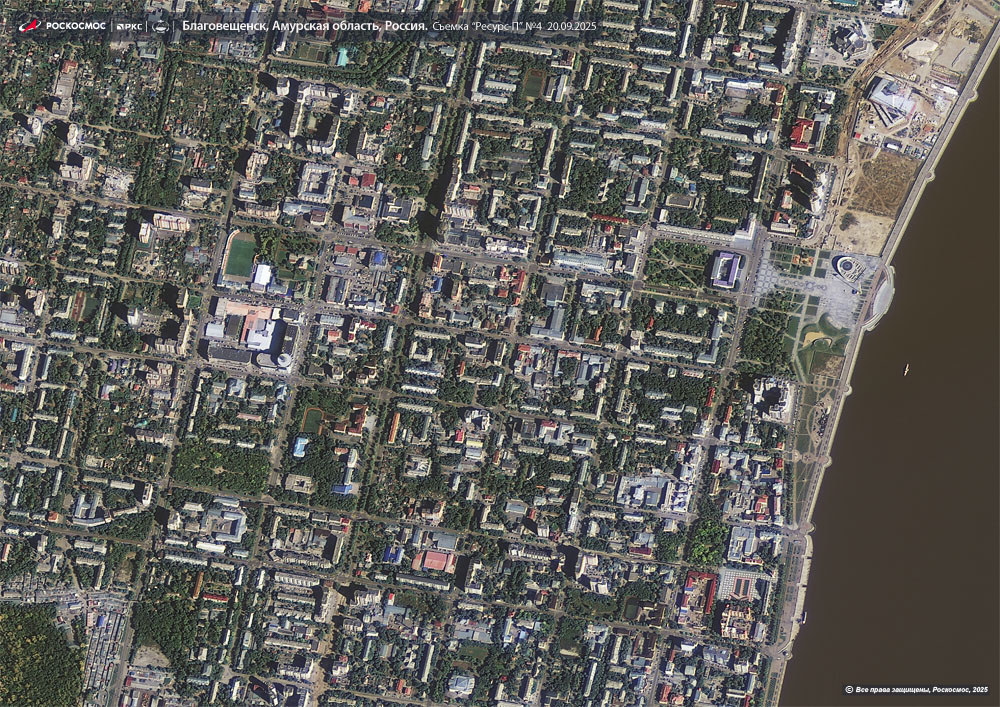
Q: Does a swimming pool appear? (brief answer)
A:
No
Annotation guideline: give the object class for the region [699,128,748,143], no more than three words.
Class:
building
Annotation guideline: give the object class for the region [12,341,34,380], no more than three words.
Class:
building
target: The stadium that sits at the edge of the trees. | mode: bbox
[221,229,259,284]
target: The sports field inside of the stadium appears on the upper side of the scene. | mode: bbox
[226,238,256,277]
